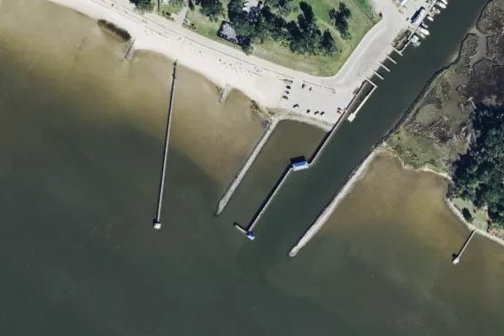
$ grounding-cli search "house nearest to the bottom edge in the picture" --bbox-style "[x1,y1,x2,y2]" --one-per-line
[217,19,240,43]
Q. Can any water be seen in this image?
Yes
